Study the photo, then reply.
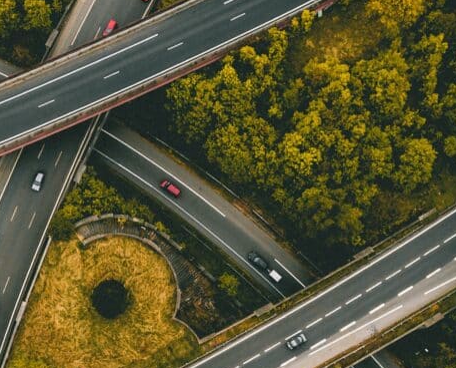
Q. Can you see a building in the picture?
No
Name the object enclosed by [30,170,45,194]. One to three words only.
car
